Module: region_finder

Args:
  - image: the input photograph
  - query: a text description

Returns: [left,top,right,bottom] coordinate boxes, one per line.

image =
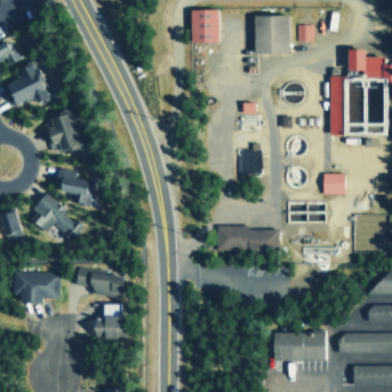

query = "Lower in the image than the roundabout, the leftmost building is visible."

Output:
[0,208,26,240]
